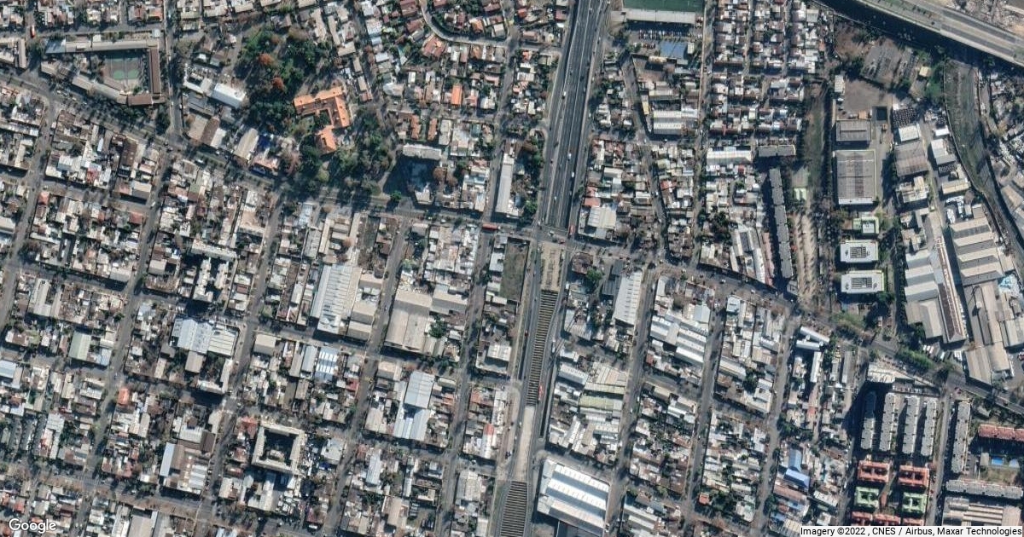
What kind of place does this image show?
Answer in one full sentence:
It's a residential area.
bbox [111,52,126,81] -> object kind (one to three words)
sports court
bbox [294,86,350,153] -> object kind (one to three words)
house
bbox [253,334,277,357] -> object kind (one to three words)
building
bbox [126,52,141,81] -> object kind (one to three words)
sports court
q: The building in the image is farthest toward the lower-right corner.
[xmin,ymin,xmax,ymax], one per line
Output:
[1002,508,1022,536]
